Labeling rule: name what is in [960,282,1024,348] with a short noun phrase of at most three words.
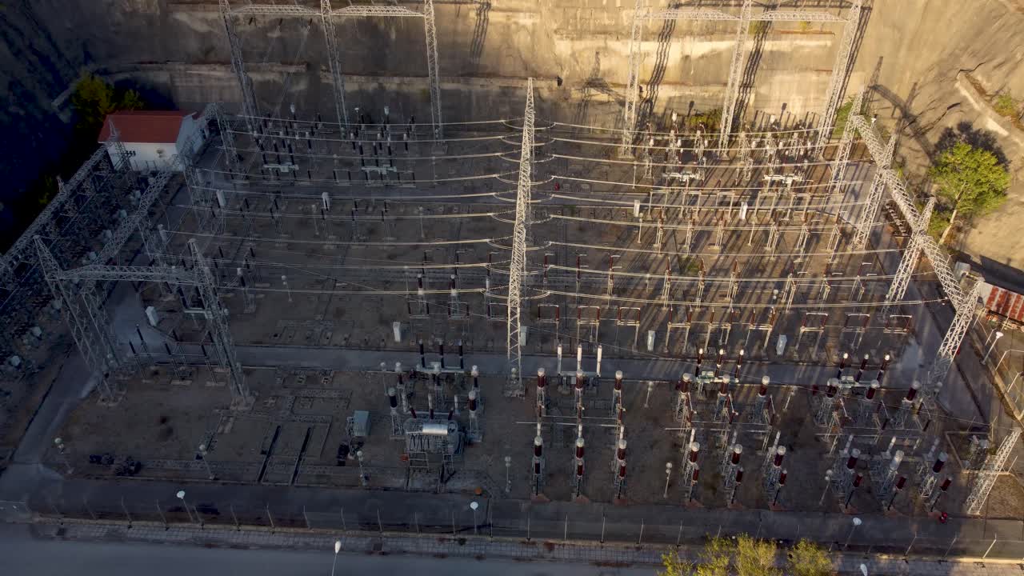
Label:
shed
